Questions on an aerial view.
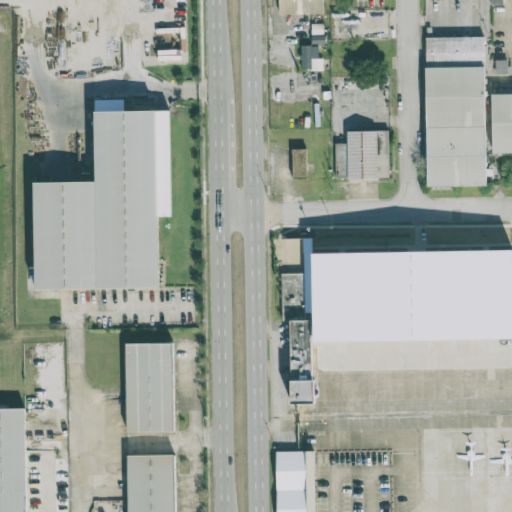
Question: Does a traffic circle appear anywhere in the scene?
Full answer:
No, no traffic circle can be seen from above.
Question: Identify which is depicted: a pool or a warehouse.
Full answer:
This aerial view contains a warehouse.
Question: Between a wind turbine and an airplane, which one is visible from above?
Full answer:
The one in the frame is an airplane.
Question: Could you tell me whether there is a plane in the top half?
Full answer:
No, looking in the top half, there is no plane.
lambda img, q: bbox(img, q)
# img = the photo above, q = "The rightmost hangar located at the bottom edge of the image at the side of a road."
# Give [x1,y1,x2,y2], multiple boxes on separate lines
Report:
[276,451,316,512]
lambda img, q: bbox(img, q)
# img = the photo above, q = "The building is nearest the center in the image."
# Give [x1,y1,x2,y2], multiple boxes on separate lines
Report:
[274,239,300,265]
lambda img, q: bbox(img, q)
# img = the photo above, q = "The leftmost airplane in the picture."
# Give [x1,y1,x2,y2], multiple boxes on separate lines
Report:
[458,442,486,476]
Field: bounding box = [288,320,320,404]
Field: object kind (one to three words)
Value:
building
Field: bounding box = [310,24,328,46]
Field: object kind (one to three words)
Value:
house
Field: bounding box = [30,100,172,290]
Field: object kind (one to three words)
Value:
warehouse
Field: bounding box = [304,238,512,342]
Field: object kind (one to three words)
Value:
hangar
